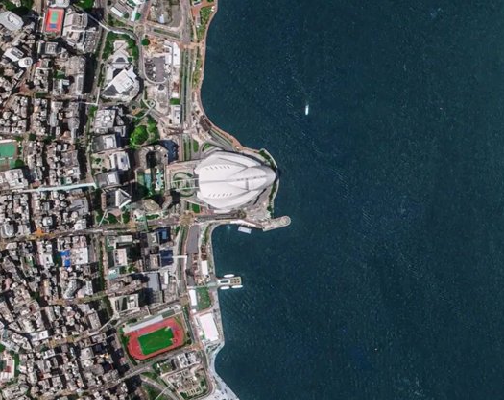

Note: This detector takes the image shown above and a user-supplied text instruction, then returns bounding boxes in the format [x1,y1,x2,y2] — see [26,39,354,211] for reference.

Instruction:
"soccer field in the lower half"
[135,326,172,355]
